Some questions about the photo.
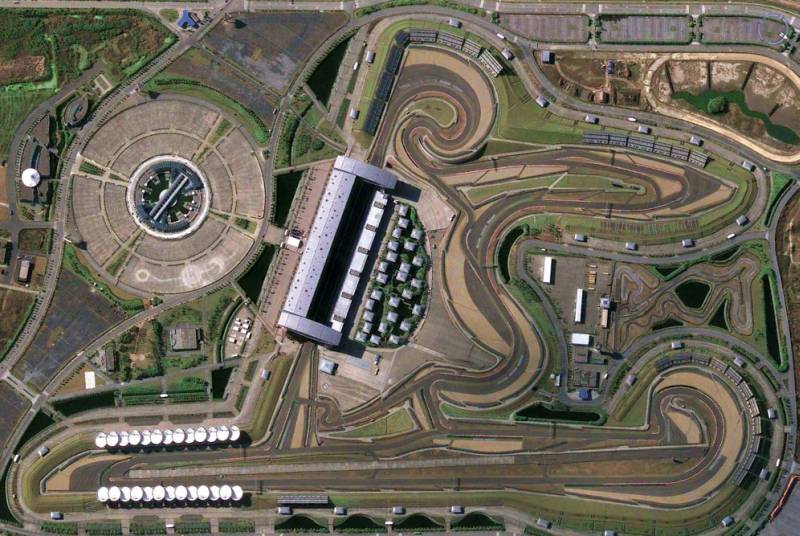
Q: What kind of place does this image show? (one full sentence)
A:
It's a sports ground.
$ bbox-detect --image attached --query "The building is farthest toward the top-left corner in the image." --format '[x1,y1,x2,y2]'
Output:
[62,94,88,126]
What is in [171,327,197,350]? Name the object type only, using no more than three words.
building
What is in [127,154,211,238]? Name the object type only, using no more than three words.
building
